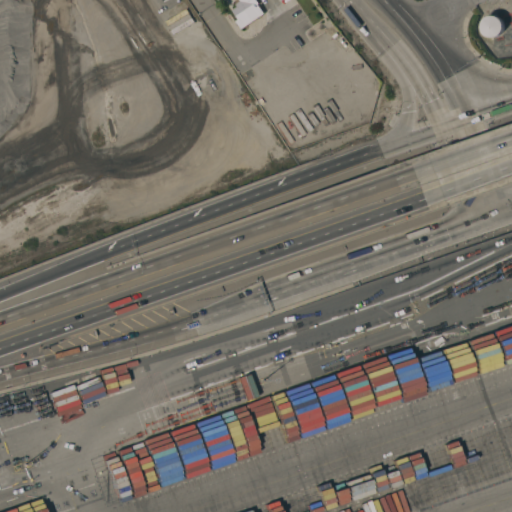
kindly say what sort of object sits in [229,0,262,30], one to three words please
house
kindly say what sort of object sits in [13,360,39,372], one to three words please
vehicle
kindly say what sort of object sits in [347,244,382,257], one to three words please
vehicle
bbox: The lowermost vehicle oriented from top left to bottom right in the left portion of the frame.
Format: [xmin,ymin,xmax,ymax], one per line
[64,484,90,502]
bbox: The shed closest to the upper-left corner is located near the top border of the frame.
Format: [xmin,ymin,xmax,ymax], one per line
[165,9,194,35]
